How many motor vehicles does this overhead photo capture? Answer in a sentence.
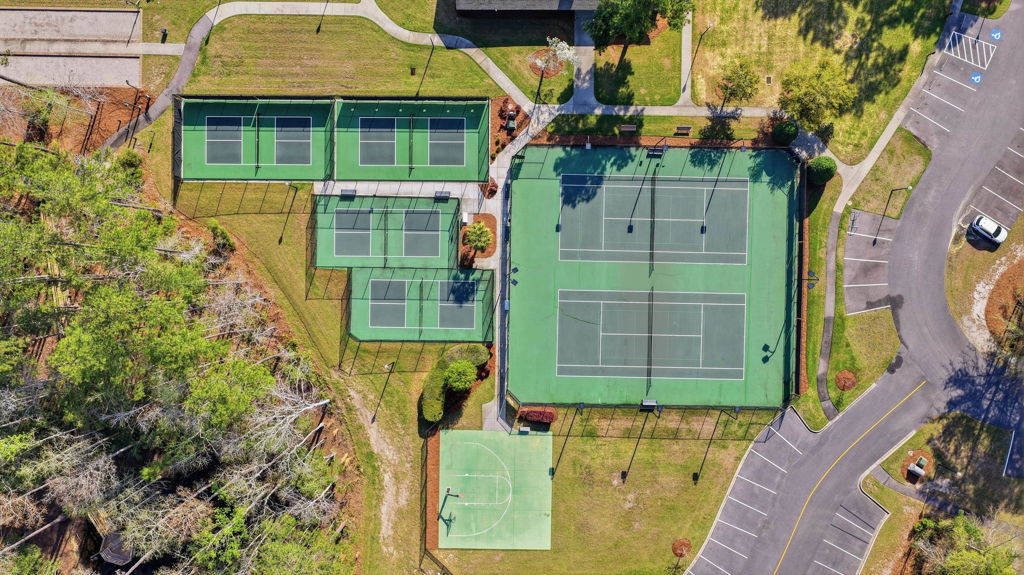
The photo contains exactly 1 motor vehicle.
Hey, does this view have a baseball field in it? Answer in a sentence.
No, there appears to be no baseball field in this shot.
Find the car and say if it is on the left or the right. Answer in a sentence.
The car appears in the right half of the scene.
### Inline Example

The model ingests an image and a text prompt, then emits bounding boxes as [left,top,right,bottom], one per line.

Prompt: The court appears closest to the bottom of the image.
[439,430,552,550]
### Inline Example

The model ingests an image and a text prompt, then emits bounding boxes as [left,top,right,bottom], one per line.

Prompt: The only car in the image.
[972,214,1011,243]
